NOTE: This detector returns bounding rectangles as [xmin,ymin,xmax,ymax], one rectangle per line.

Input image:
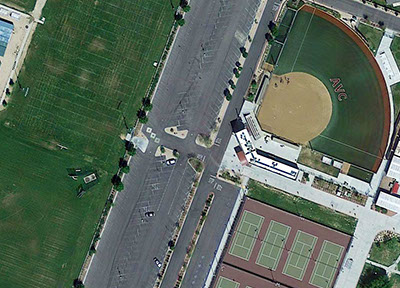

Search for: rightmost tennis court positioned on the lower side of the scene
[309,240,346,288]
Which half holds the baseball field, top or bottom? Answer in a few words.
top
